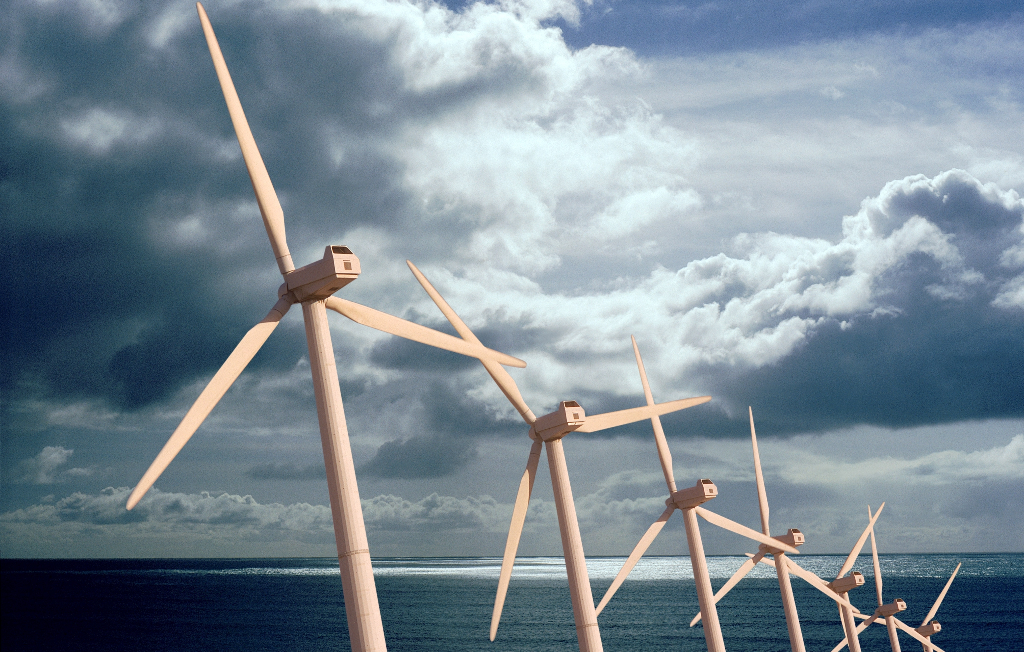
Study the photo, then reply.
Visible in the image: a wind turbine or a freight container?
wind turbine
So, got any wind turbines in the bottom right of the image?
Yes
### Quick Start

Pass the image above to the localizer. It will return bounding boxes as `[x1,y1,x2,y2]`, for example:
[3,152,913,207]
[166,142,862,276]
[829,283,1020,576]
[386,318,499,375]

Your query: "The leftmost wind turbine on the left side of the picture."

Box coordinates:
[129,1,525,652]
